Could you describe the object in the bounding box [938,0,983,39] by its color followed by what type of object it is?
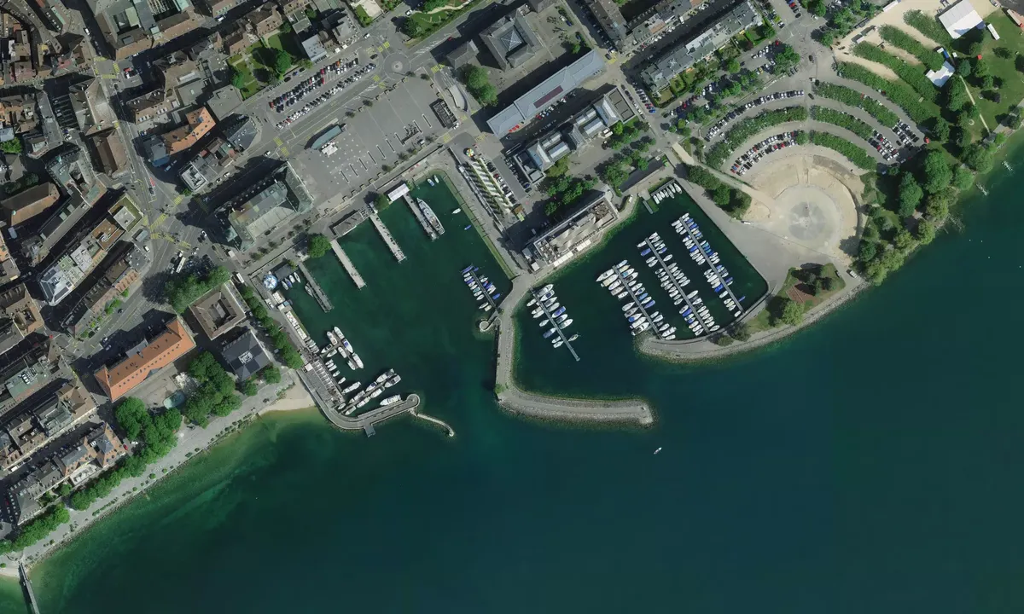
white tent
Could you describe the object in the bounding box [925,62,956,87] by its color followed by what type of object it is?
white tent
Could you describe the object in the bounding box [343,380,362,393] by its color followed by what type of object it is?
white boat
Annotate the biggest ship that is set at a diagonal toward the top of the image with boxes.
[416,197,445,236]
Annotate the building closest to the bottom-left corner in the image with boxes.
[8,478,46,518]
